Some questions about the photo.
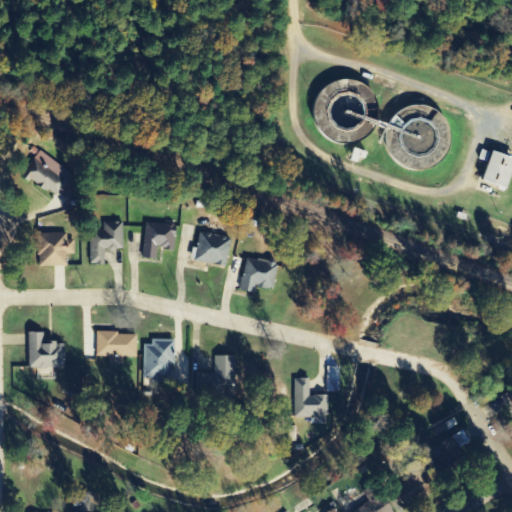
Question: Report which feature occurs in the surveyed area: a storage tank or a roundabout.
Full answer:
Of the two, only a storage tank appears.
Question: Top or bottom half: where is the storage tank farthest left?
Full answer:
It is in the top half that the storage tank farthest left appears.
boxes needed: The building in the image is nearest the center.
[240,258,276,290]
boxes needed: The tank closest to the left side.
[314,78,378,144]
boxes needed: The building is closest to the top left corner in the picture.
[30,152,64,196]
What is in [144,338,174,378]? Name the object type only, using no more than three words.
house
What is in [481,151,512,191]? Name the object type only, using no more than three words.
building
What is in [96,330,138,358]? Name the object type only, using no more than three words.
house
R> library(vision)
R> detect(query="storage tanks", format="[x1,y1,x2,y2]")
[314,78,378,144]
[384,104,451,170]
